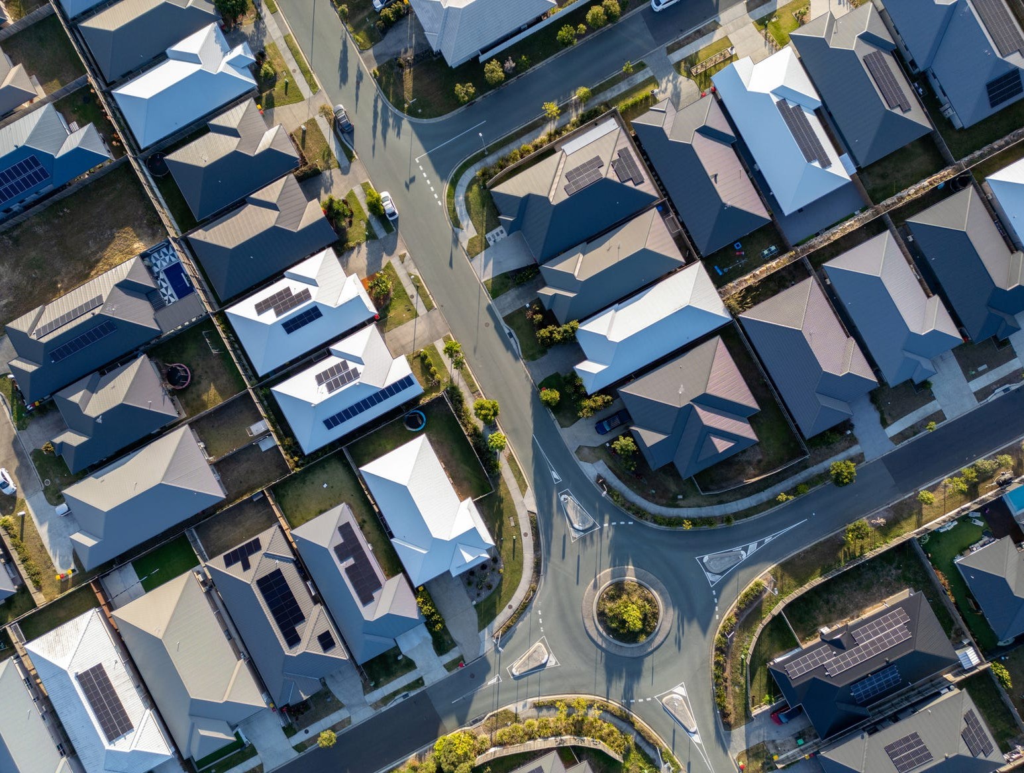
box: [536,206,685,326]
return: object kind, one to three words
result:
house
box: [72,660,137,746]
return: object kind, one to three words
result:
solar array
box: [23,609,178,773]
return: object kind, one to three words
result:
house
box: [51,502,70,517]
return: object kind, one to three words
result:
car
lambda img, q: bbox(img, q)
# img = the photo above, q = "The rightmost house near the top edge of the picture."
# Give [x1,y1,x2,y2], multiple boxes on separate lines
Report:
[872,0,1024,130]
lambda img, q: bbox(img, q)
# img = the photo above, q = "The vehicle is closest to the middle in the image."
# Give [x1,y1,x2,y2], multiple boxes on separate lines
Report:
[594,410,632,434]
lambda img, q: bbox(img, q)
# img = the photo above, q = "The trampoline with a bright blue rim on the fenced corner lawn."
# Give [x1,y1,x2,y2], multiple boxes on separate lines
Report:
[403,410,426,433]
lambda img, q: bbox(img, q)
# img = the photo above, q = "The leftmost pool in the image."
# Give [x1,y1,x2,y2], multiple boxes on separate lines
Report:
[161,260,193,300]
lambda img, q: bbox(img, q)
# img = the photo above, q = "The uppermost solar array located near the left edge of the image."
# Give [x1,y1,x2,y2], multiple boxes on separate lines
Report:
[0,150,55,205]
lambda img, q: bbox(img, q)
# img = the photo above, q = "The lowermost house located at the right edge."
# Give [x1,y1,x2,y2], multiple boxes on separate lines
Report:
[816,688,1004,773]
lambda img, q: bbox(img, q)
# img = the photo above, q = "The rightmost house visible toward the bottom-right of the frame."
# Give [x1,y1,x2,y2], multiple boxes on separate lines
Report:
[947,531,1024,644]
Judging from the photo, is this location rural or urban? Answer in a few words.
urban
